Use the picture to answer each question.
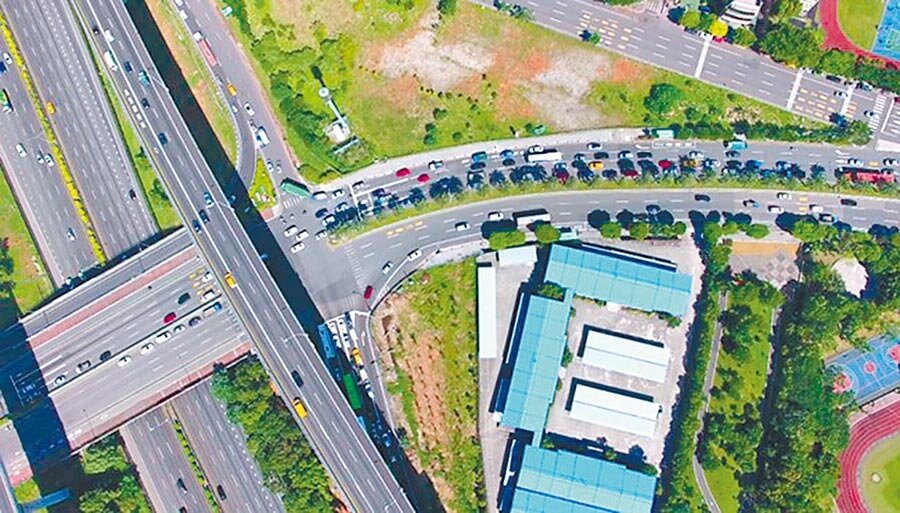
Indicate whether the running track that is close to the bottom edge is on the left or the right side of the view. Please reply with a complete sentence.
You can find the running track that is close to the bottom edge on the right side of the picture.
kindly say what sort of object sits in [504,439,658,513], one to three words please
building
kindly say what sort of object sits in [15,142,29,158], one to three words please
vehicle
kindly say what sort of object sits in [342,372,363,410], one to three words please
bus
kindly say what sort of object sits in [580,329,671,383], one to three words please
shed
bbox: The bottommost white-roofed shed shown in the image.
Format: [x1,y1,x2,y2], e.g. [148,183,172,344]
[570,382,662,437]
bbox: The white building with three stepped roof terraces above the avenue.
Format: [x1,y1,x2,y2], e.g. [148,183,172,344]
[713,0,765,33]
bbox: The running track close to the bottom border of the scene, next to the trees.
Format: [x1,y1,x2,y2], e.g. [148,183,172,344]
[835,390,900,513]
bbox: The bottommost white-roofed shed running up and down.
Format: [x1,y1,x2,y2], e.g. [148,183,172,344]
[478,266,497,358]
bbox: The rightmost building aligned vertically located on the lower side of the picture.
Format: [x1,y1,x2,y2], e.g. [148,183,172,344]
[493,295,571,430]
